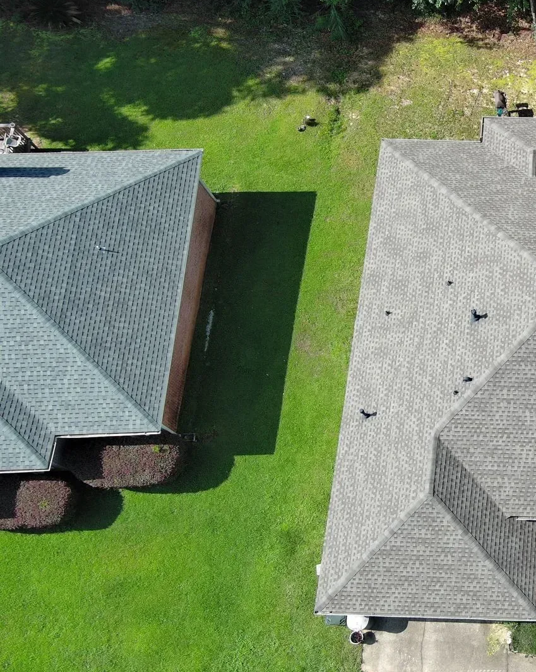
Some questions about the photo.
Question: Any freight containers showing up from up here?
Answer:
No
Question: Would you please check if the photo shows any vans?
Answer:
No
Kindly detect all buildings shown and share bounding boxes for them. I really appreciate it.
[0,148,230,474]
[315,115,536,625]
